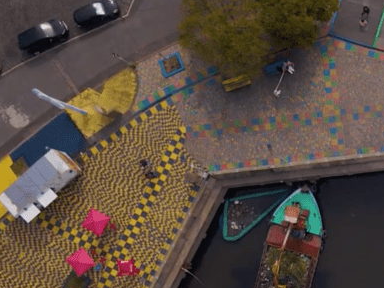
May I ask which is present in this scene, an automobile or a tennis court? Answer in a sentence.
I can see an automobile in this picture.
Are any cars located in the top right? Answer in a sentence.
No, no car is visible in the top right.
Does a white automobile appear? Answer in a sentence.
No, there appears to be no white automobile in this shot.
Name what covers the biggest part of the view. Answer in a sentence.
What you mostly see from above here is paved ground.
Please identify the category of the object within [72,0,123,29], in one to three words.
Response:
car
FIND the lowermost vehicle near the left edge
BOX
[14,19,71,55]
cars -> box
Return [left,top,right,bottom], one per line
[14,19,71,55]
[72,0,123,29]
